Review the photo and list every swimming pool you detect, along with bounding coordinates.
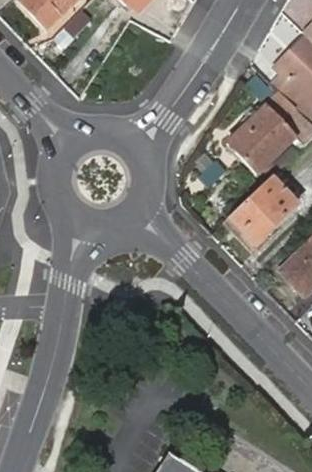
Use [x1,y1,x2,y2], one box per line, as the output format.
[200,159,226,187]
[244,74,275,103]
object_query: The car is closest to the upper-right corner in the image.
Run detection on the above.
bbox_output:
[192,83,210,104]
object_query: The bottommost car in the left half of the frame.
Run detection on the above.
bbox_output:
[88,242,106,261]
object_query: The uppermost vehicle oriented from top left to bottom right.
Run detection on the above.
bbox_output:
[5,45,25,66]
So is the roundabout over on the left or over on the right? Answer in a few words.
left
